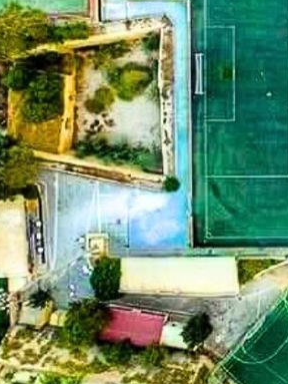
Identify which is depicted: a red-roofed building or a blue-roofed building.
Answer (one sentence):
The one in the frame is a red-roofed building.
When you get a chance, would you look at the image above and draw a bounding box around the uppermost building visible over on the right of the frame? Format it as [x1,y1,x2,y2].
[119,253,244,294]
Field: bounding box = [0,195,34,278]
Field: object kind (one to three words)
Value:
building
